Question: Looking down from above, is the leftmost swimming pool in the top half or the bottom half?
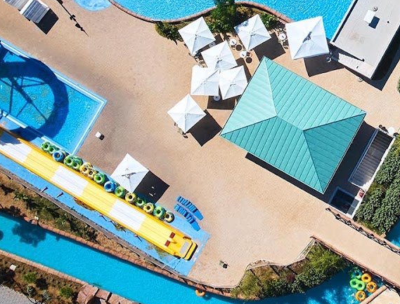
top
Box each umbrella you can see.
[167,94,204,133]
[190,67,221,97]
[216,66,247,99]
[201,38,238,74]
[234,13,274,53]
[180,15,218,53]
[285,14,332,61]
[104,155,148,199]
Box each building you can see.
[221,57,366,194]
[329,0,400,79]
